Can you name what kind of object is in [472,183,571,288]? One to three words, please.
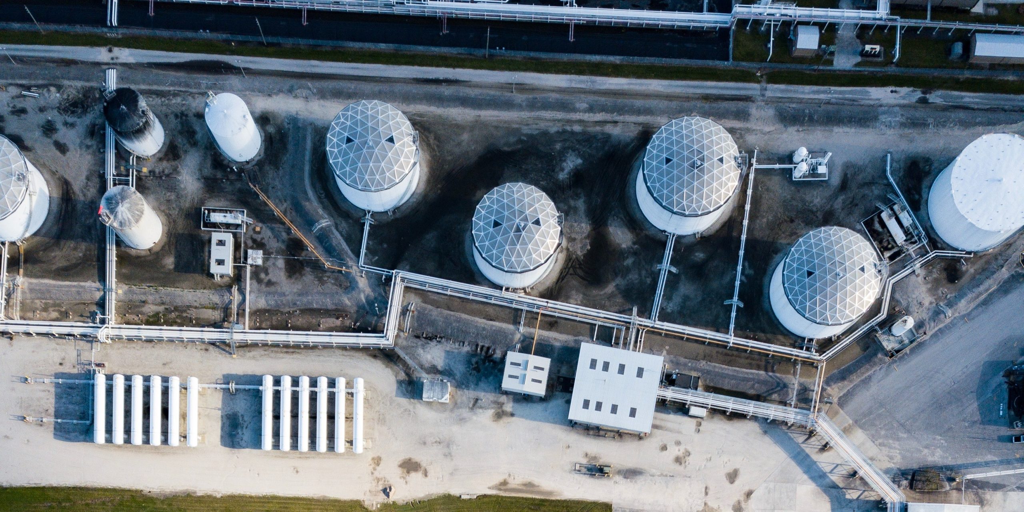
storage tank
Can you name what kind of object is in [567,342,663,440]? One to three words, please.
shed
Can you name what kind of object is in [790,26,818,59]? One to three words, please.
building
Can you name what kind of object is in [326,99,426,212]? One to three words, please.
storage tank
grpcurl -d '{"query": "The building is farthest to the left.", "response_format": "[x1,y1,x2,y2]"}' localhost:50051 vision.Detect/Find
[210,233,235,281]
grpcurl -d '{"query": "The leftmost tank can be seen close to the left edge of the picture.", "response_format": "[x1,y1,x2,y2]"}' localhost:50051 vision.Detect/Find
[0,138,52,240]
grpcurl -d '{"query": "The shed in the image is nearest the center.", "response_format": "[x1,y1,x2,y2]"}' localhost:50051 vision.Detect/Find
[501,351,551,399]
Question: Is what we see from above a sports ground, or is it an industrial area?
industrial area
